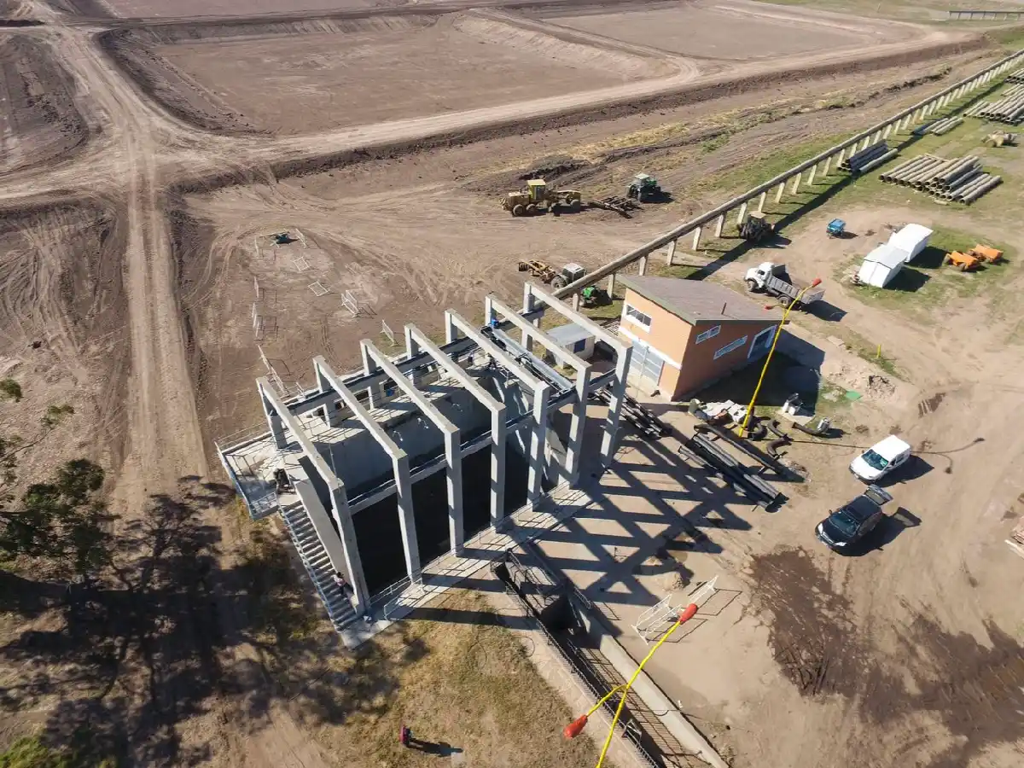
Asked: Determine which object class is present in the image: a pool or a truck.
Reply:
truck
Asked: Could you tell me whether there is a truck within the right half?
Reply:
Yes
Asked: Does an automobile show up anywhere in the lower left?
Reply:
No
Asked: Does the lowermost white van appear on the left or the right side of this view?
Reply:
right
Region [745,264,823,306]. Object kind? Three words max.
truck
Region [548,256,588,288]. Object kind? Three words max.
work vehicle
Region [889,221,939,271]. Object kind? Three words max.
shed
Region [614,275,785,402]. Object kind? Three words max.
building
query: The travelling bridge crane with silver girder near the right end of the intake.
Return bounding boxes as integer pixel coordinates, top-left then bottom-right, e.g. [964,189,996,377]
[470,315,585,404]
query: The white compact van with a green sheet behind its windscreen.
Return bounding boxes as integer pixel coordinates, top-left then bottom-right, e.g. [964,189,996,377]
[849,430,916,481]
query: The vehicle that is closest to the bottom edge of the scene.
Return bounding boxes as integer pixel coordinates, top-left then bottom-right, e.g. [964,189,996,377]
[816,475,898,550]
